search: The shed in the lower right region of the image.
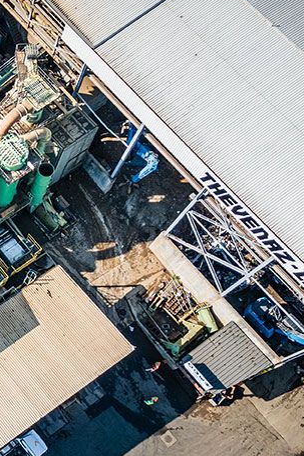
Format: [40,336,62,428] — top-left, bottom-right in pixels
[176,322,274,393]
